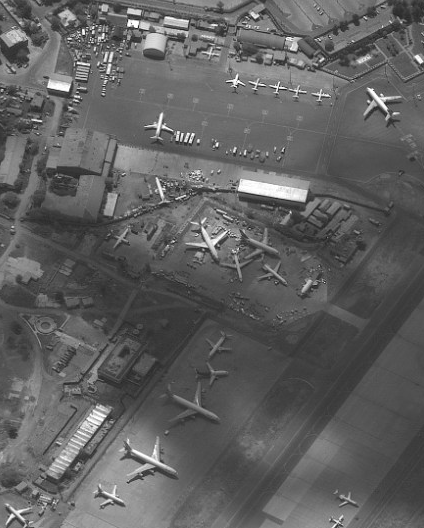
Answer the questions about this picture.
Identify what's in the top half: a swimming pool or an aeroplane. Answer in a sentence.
Looking in the top half, you will find an aeroplane.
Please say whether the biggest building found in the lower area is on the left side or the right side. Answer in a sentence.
It is on the left.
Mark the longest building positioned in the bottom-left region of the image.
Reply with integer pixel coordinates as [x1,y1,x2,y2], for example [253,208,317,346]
[48,405,113,483]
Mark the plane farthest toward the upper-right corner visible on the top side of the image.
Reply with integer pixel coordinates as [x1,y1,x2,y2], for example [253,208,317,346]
[367,88,401,124]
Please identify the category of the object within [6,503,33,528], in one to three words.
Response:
airplane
